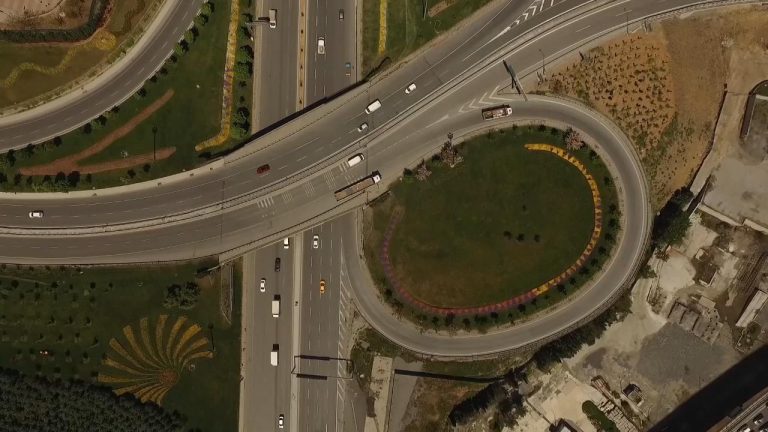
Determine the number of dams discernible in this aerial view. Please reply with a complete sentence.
Not a single dam can be seen.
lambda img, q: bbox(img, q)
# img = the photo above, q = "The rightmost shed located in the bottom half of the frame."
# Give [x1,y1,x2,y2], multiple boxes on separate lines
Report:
[731,290,768,326]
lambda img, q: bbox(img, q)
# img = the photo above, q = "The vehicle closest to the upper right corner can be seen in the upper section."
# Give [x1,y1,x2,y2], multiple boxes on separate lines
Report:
[482,106,511,120]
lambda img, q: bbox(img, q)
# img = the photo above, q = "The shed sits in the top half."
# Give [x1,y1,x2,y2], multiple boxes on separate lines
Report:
[735,80,768,136]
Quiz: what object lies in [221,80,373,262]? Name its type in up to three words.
overpass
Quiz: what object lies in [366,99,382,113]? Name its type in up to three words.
vehicle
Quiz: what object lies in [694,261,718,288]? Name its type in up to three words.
shed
